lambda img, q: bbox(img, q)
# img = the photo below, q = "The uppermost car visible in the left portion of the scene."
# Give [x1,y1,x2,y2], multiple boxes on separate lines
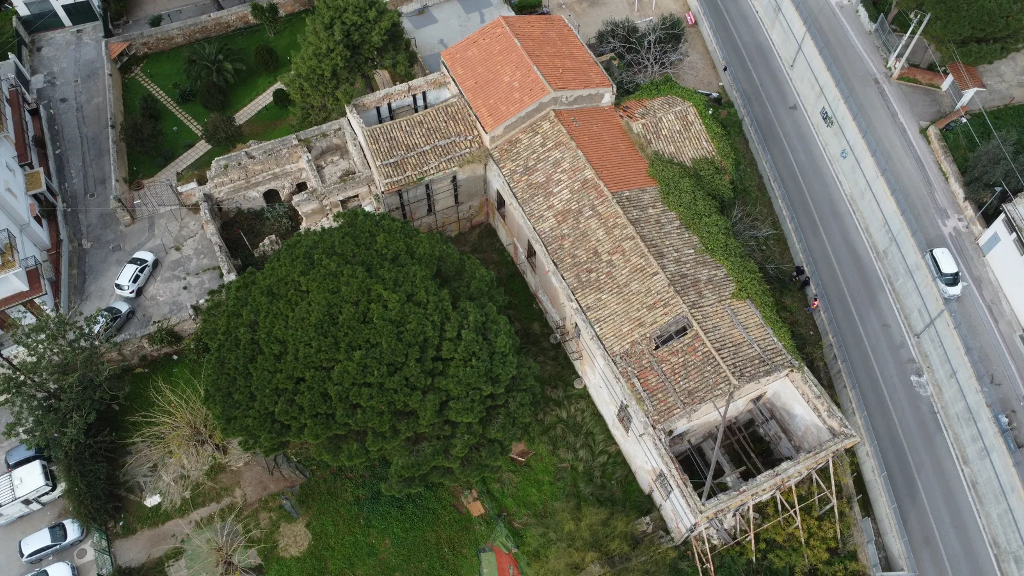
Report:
[104,246,158,297]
